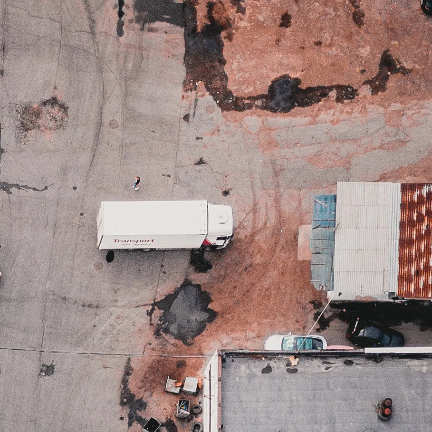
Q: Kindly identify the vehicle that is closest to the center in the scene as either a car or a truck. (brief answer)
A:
truck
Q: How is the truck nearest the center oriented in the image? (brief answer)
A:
from left to right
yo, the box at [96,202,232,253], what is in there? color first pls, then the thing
white truck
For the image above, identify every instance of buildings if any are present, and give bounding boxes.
[205,346,432,432]
[311,182,401,305]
